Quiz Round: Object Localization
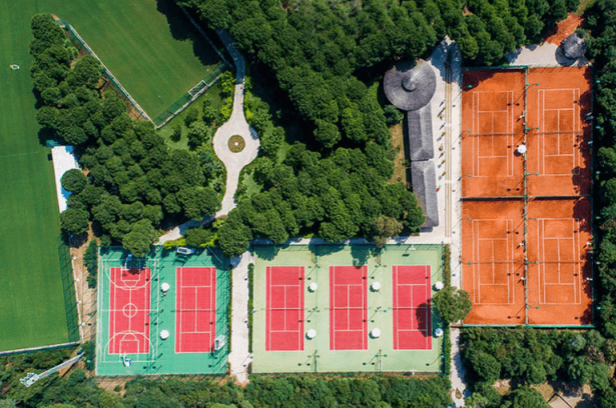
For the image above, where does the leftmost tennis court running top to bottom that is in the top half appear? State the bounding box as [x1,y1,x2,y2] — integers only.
[461,67,525,197]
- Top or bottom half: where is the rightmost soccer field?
top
